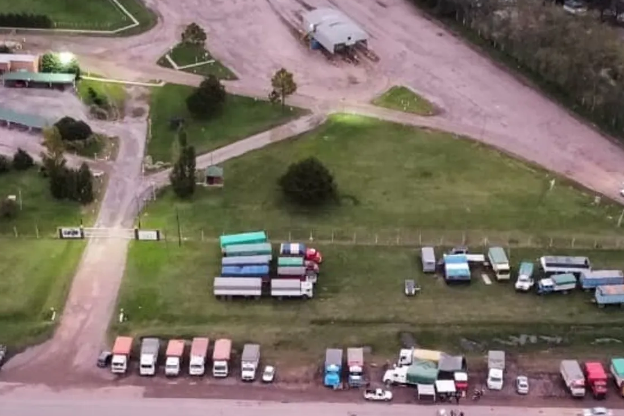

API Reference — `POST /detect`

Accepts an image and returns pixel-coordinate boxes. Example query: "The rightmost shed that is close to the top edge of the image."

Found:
[304,9,373,77]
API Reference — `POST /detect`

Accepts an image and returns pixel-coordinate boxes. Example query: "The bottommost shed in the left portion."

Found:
[201,165,222,184]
